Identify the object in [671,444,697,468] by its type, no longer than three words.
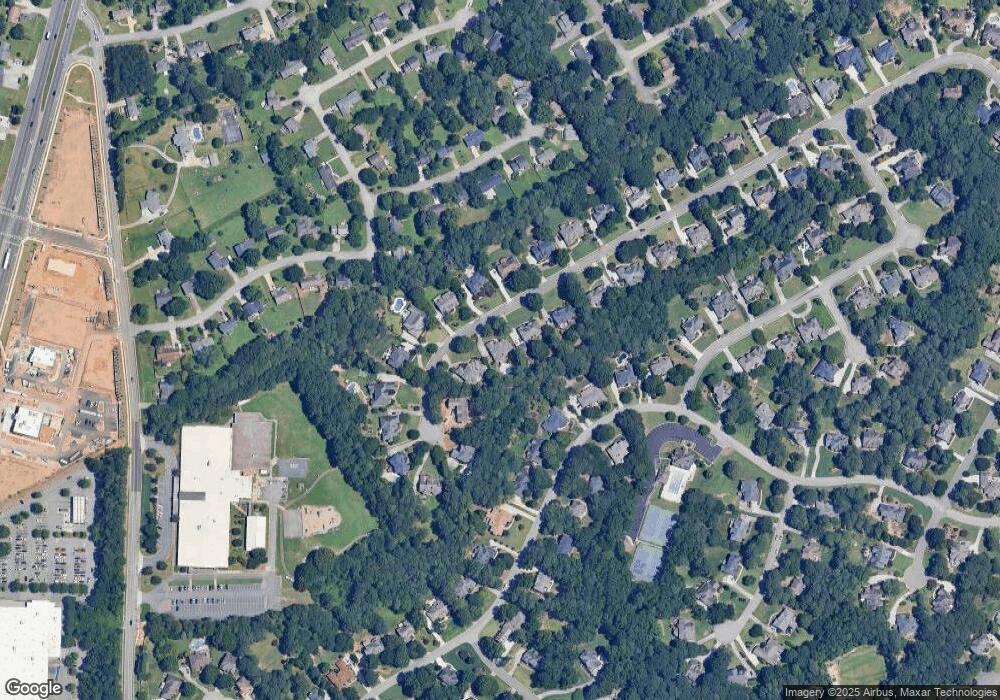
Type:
building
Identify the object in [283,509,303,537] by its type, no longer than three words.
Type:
sports court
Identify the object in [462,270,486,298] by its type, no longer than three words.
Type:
house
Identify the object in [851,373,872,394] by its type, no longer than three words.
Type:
house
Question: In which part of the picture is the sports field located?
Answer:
bottom right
